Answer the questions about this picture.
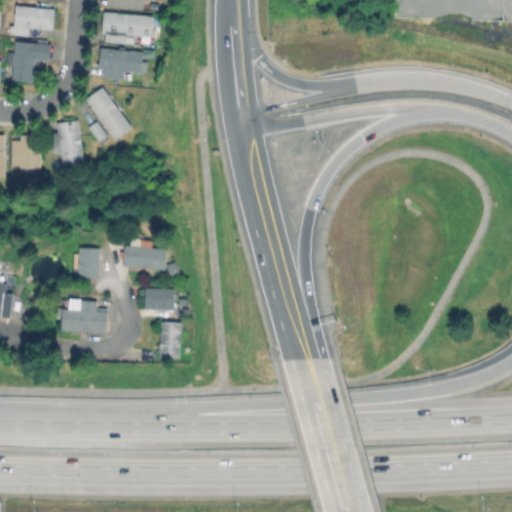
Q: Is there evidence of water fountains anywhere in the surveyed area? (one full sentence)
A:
No, the scene contains no water fountain.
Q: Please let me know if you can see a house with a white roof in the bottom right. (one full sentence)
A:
No, the scene shows no house with a white roof in the bottom right.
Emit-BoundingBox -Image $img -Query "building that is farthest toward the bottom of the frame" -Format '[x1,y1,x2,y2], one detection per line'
[160,322,182,360]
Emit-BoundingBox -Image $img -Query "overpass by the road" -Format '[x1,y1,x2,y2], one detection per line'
[268,330,382,512]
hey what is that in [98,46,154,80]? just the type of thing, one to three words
house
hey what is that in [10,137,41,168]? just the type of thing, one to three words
house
